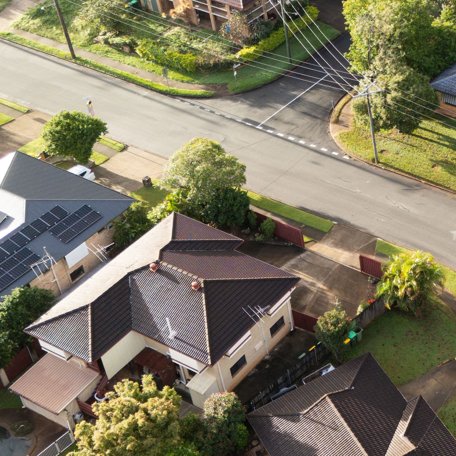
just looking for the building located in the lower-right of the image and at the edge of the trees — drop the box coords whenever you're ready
[244,349,456,456]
